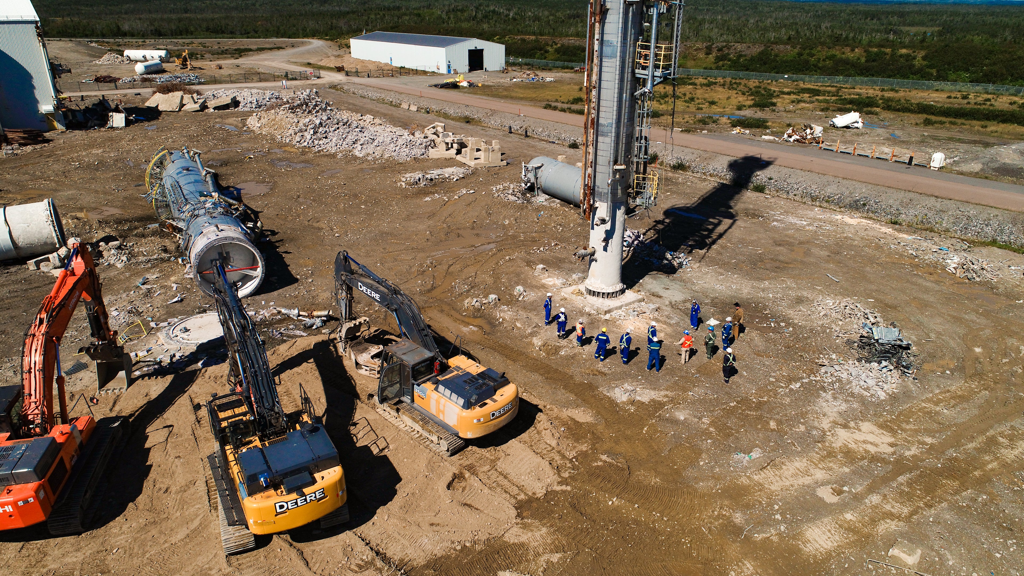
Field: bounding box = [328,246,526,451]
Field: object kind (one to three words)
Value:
work vehicle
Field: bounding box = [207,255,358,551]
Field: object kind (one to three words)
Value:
work vehicle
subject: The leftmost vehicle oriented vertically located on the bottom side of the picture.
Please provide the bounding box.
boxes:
[0,237,136,521]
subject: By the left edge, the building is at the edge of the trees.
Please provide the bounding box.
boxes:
[0,0,101,131]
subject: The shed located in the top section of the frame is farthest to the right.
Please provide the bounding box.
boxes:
[353,30,507,73]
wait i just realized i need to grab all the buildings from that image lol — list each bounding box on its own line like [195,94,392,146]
[353,30,507,73]
[0,0,101,131]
